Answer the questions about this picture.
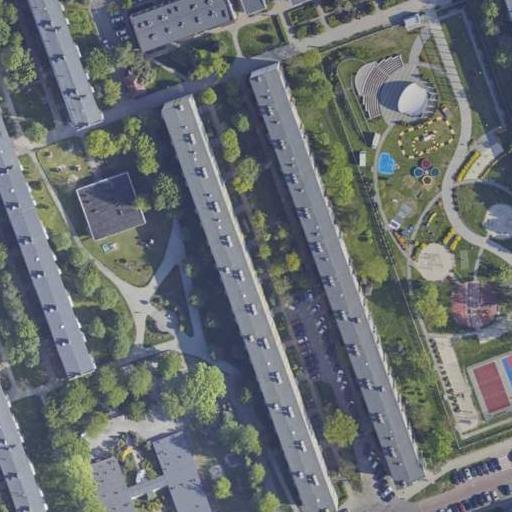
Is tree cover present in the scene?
Yes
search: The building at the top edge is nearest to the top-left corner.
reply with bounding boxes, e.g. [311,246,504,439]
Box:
[29,0,105,131]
